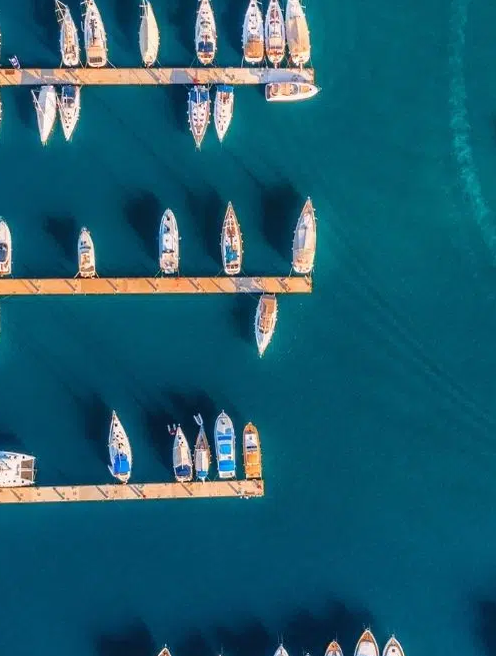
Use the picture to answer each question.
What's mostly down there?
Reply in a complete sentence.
Most of the picture is covered by water.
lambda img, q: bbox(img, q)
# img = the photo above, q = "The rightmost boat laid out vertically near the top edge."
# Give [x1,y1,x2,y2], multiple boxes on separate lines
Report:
[285,0,313,74]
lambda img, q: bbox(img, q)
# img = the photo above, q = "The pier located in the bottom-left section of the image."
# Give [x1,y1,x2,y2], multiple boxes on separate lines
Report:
[0,480,265,505]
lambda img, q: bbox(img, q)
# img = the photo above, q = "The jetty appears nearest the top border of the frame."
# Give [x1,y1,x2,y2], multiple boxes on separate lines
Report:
[0,67,314,86]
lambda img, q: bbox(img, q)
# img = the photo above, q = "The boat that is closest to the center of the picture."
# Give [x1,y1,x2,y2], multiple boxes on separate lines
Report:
[253,286,281,357]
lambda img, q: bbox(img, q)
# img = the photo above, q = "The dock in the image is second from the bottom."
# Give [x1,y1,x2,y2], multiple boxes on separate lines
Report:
[0,276,311,296]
